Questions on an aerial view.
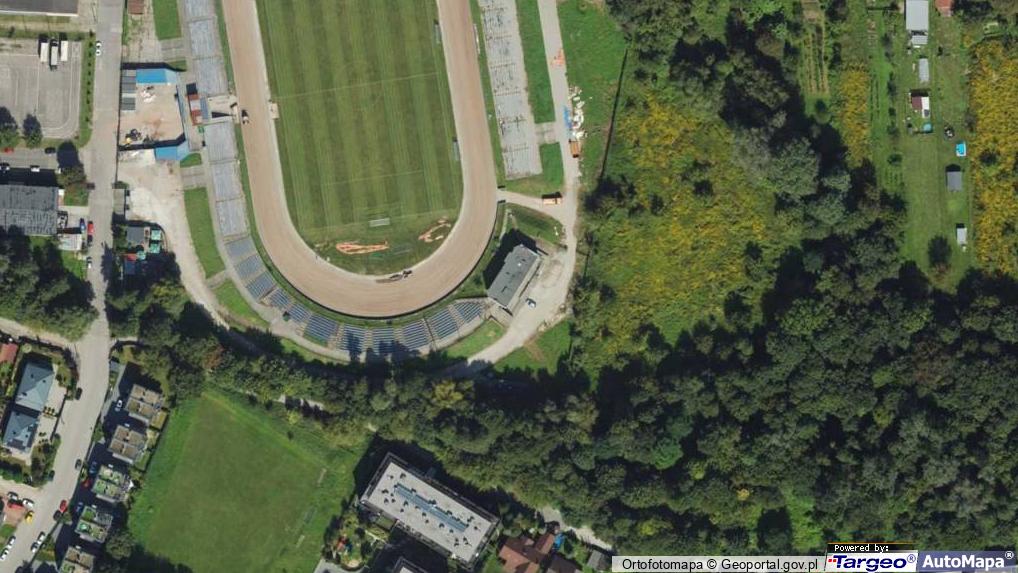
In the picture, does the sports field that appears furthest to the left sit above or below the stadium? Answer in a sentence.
The sports field that appears furthest to the left appears below the stadium in the picture.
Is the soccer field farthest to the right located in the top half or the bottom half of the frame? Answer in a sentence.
It is in the top half that the soccer field farthest to the right appears.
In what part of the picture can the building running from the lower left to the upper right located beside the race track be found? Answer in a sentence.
The building running from the lower left to the upper right located beside the race track is in the center part of the image.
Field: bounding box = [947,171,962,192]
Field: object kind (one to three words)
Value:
shed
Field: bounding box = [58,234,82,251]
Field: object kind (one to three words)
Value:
shed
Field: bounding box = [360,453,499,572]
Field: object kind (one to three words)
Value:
building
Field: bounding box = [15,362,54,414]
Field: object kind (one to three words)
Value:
house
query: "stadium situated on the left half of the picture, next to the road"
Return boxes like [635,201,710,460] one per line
[177,0,543,366]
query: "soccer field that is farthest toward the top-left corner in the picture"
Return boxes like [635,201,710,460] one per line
[265,0,459,232]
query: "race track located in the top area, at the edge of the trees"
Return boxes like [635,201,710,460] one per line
[223,0,497,317]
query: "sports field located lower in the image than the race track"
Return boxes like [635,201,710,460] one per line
[136,396,360,573]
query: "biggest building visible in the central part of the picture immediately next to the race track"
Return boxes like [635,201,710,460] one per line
[487,243,543,309]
